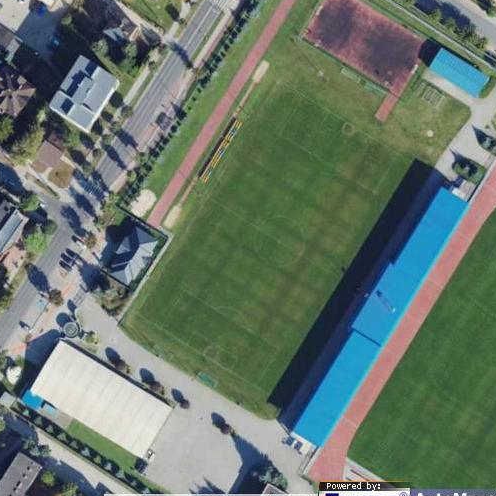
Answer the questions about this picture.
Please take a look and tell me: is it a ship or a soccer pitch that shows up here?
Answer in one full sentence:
Of the two, only a soccer pitch appears.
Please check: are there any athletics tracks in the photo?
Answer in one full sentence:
Yes, there's an athletics track here.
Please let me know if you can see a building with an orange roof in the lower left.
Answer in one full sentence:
No, no building with an orange roof is visible in the lower left.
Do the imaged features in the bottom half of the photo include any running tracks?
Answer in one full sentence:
Yes, you'll find a running track in the bottom half of the photo.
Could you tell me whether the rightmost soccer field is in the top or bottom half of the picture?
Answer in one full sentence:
The bottom half of the photo is where the rightmost soccer field is.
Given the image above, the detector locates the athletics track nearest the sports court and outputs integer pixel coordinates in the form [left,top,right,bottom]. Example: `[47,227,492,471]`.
[147,0,295,229]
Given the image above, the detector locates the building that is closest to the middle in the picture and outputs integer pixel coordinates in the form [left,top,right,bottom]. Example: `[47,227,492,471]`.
[109,222,160,287]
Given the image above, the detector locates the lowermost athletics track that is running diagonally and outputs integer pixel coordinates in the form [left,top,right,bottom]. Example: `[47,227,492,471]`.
[314,165,496,494]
